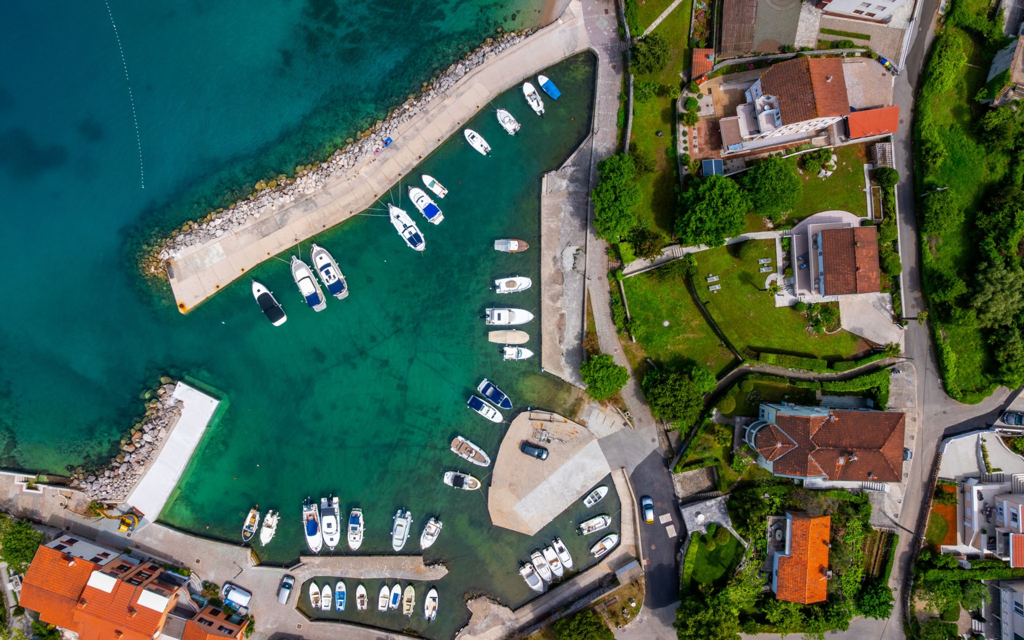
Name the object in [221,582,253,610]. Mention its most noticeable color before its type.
white van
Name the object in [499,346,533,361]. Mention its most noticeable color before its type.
white boat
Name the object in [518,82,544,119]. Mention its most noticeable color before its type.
white boat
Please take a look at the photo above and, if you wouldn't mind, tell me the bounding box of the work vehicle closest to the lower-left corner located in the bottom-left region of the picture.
[95,504,146,533]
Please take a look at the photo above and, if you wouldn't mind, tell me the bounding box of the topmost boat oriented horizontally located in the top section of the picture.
[493,237,529,253]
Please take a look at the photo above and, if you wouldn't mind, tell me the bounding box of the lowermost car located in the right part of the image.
[639,495,653,524]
